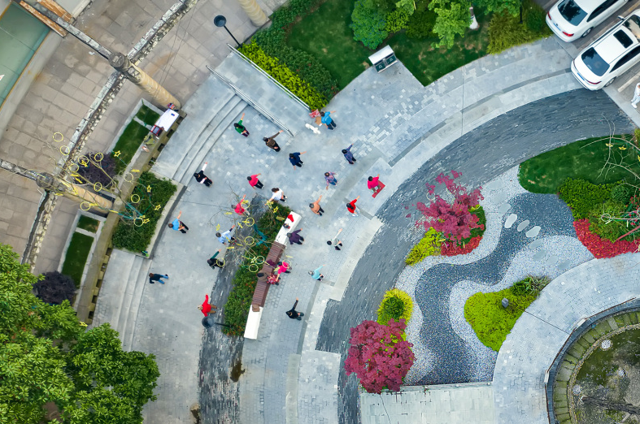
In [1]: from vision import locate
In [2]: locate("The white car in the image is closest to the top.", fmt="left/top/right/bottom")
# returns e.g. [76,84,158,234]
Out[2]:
[549,0,629,42]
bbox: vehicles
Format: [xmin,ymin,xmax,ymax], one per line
[549,0,629,42]
[576,5,640,90]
